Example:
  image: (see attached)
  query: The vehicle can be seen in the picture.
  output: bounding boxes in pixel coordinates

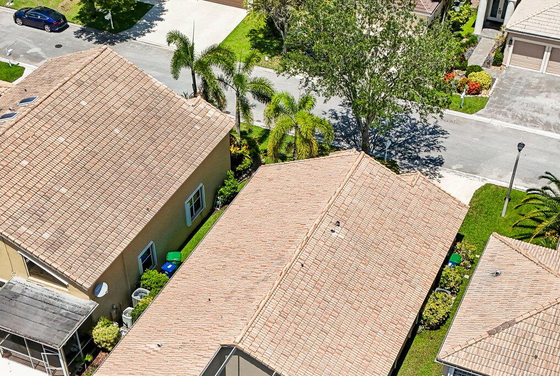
[15,4,70,33]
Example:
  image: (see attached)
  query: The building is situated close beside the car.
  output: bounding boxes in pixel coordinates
[0,32,243,321]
